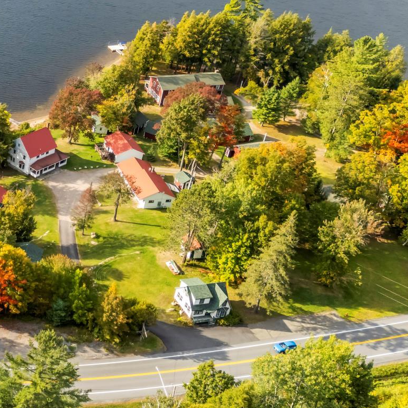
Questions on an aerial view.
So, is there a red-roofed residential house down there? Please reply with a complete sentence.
Yes, looking at the shot, I can spot a red-roofed residential house.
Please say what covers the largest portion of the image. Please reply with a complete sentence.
For the most part, this view shows trees.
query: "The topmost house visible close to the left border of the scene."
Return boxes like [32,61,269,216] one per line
[9,122,68,179]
